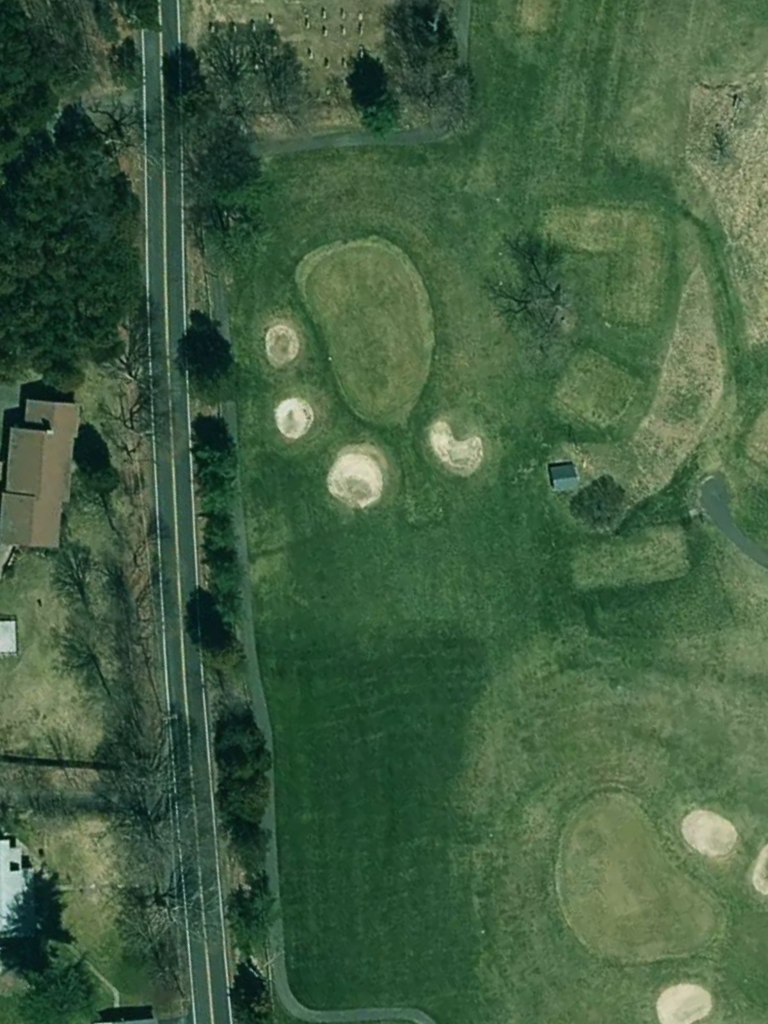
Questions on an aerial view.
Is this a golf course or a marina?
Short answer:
golf course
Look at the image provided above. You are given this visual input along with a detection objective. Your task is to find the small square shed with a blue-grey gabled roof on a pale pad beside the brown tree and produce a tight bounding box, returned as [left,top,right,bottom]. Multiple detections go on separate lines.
[547,460,580,492]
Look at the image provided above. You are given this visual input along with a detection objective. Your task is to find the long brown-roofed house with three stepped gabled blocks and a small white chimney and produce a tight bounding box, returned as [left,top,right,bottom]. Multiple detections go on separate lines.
[0,400,79,549]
